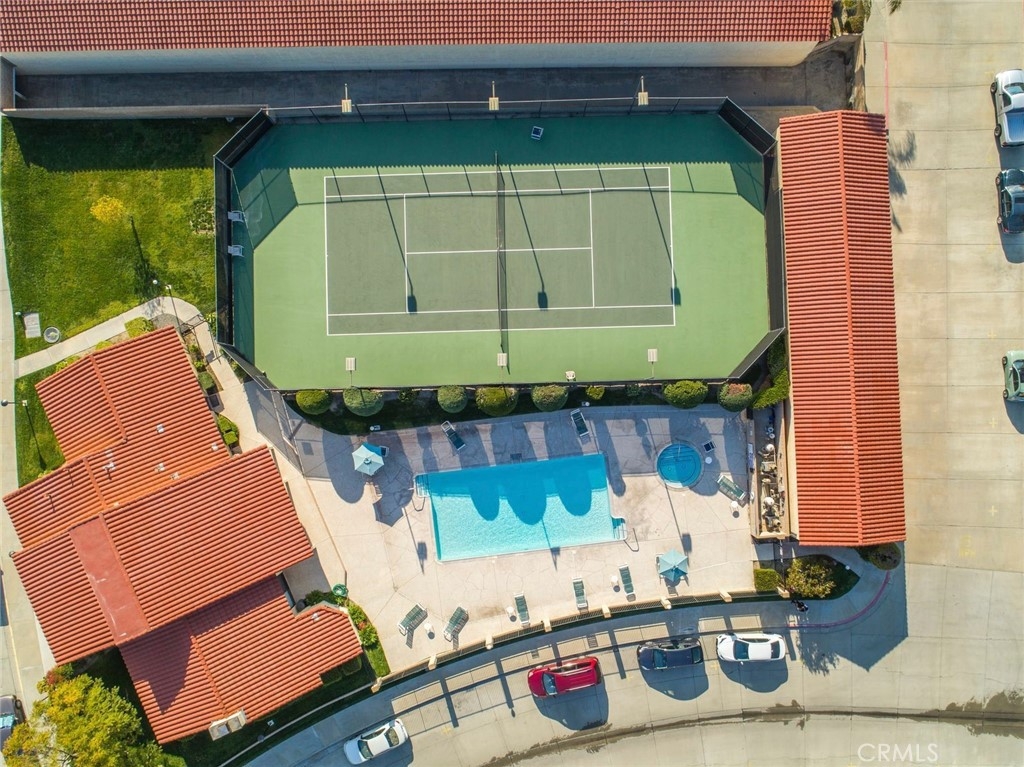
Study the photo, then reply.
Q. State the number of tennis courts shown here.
1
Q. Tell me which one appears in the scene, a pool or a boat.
pool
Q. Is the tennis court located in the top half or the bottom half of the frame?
top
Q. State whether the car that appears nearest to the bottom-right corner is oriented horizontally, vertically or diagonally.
horizontally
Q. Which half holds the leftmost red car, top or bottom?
bottom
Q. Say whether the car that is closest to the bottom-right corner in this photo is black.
No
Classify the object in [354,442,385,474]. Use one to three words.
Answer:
umbrella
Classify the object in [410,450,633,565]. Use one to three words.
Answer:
swimming pool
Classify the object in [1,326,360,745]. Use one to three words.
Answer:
building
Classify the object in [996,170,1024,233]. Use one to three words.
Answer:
car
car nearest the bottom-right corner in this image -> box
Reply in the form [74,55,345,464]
[715,630,786,664]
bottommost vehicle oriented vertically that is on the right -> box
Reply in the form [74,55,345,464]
[999,349,1024,402]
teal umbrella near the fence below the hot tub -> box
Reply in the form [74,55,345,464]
[657,547,687,581]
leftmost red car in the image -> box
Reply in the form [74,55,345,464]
[529,655,602,698]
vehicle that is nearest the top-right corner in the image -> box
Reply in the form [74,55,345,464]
[990,69,1024,150]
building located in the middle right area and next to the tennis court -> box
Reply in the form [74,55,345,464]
[772,106,906,548]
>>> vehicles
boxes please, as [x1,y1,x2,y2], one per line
[0,692,22,764]
[636,636,704,671]
[996,170,1024,233]
[529,655,602,698]
[715,630,786,664]
[999,349,1024,402]
[990,69,1024,150]
[344,717,408,763]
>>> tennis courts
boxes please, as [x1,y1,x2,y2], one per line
[231,118,769,396]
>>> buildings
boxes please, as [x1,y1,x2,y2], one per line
[772,106,906,548]
[1,326,360,745]
[0,0,834,75]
